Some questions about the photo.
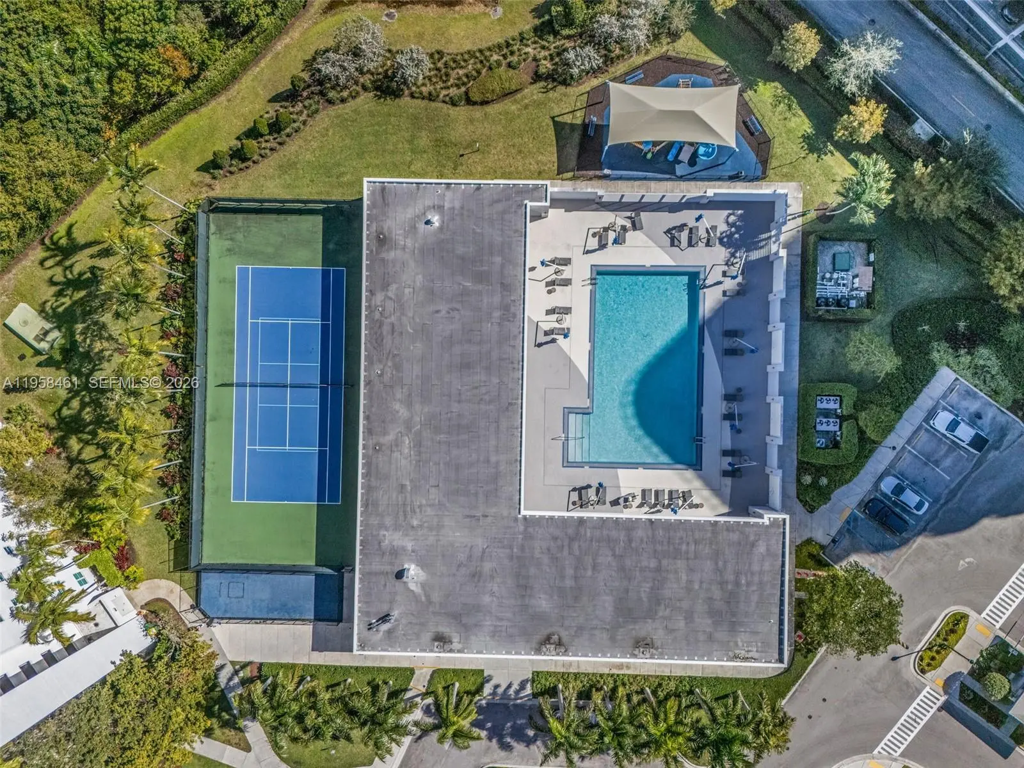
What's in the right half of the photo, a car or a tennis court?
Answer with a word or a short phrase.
car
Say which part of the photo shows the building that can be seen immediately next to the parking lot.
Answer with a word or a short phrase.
center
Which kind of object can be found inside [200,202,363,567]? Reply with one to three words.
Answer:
tennis court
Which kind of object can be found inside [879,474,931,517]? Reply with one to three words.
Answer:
car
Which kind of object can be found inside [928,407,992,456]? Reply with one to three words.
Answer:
truck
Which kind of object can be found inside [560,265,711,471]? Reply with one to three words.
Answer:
swimming pool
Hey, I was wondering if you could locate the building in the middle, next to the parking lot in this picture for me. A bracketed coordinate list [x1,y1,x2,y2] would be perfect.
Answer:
[353,179,789,667]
